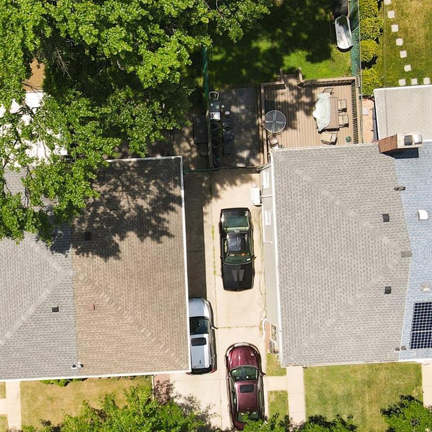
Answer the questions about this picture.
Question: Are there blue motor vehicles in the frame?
No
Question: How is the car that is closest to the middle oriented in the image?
vertically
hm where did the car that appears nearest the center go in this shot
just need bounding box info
[219,207,258,291]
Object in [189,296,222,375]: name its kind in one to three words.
car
